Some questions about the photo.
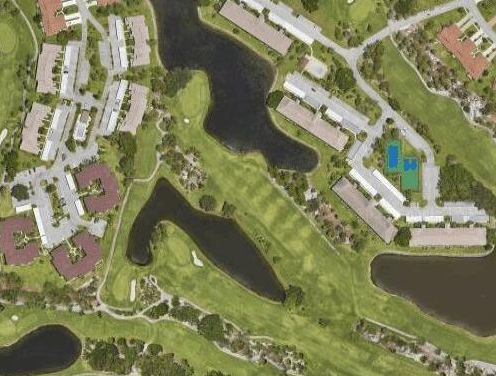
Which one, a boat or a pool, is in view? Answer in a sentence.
This aerial view contains a pool.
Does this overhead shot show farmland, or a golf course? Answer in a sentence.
It's a golf course.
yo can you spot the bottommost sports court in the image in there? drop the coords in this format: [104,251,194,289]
[401,158,419,190]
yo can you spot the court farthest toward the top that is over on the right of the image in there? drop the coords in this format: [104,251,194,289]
[387,140,401,171]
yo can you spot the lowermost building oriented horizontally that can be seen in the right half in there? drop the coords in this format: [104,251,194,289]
[409,225,486,246]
